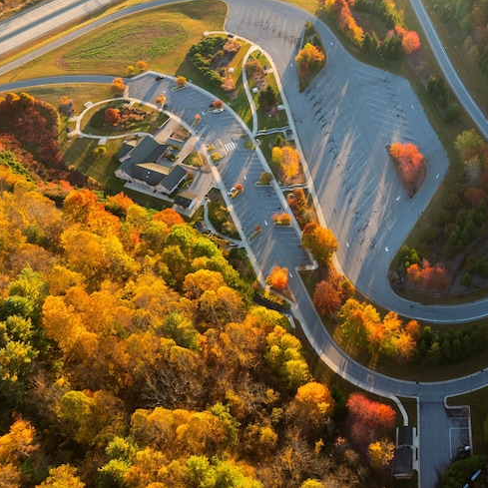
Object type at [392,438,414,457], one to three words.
shed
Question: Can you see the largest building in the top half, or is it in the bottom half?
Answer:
top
